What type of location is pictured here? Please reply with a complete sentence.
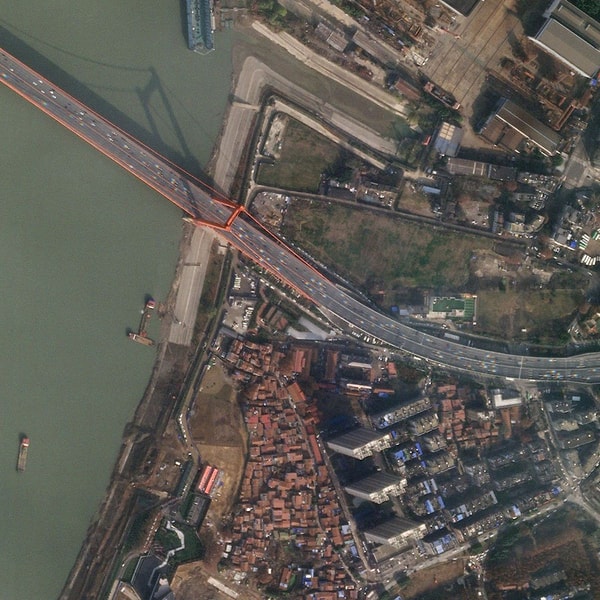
This image shows a port.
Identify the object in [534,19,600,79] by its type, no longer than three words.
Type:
building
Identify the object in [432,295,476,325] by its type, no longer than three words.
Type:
sports court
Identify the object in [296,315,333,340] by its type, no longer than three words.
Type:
shed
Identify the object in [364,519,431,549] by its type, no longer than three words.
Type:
building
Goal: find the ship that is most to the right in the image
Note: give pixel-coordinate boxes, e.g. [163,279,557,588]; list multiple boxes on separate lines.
[422,86,459,111]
